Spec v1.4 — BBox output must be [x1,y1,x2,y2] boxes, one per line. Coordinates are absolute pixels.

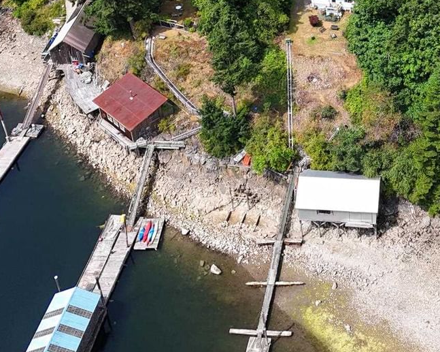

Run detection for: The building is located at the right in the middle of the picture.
[294,175,382,233]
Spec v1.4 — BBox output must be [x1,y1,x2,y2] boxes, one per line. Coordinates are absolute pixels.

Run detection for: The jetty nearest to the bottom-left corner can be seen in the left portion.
[79,215,137,291]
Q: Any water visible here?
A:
Yes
